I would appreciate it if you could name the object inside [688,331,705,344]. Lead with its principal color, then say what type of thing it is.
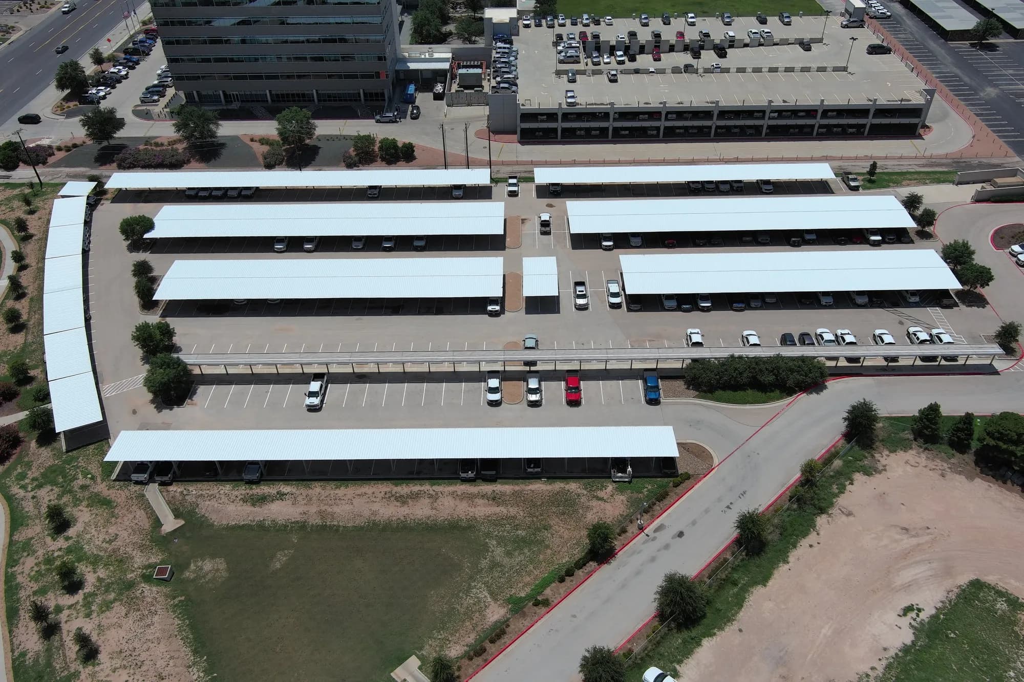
white vehicle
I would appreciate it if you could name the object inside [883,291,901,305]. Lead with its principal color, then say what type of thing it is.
black car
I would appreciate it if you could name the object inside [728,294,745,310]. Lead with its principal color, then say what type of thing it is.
black car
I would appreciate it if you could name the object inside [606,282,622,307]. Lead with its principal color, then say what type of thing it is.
white vehicle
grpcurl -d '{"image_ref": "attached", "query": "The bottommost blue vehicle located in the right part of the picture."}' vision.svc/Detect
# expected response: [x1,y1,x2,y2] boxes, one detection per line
[641,372,661,404]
